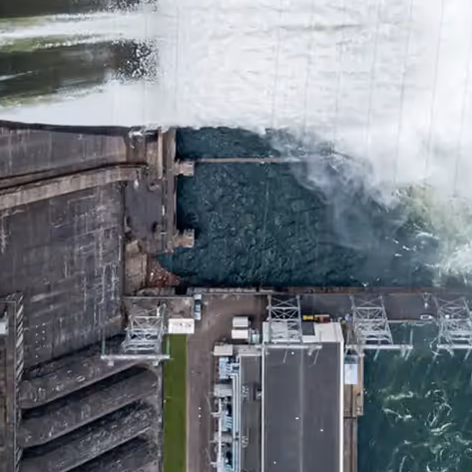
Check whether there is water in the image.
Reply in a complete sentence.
Yes, there's water in this view.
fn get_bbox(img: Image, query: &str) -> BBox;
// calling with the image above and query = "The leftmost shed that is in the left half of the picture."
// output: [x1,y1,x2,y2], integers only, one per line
[167,320,192,335]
